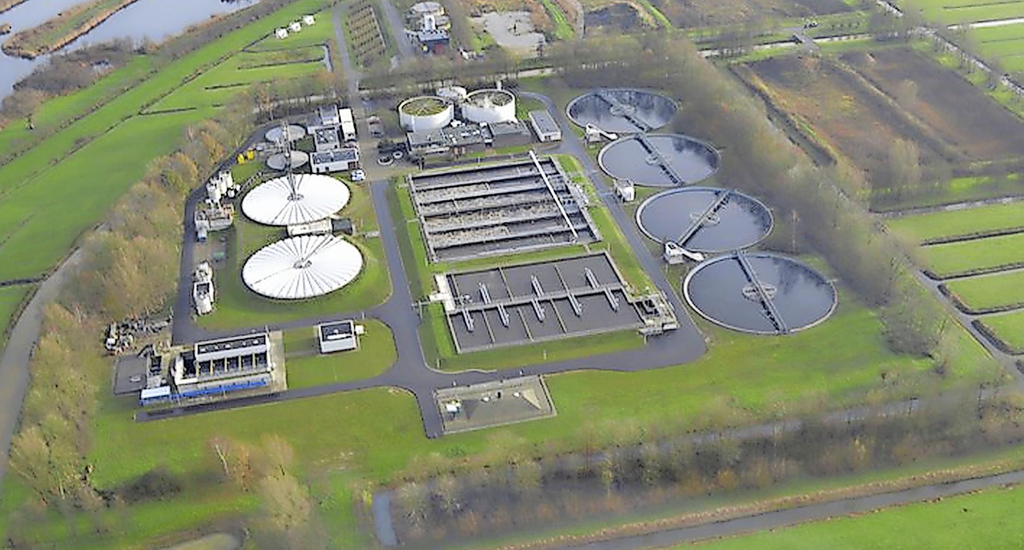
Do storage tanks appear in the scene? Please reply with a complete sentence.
Yes, looking at the shot, I can spot a storage tank.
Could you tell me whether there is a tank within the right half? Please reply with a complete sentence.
Yes, a tank shows up within the right half.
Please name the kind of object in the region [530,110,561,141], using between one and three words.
shed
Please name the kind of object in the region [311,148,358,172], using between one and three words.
building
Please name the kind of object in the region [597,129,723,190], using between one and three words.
storage tank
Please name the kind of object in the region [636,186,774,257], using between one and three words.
storage tank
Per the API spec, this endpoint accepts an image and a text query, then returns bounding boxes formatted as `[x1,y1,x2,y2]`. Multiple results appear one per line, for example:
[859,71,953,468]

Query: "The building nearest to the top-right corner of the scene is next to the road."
[611,182,637,200]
